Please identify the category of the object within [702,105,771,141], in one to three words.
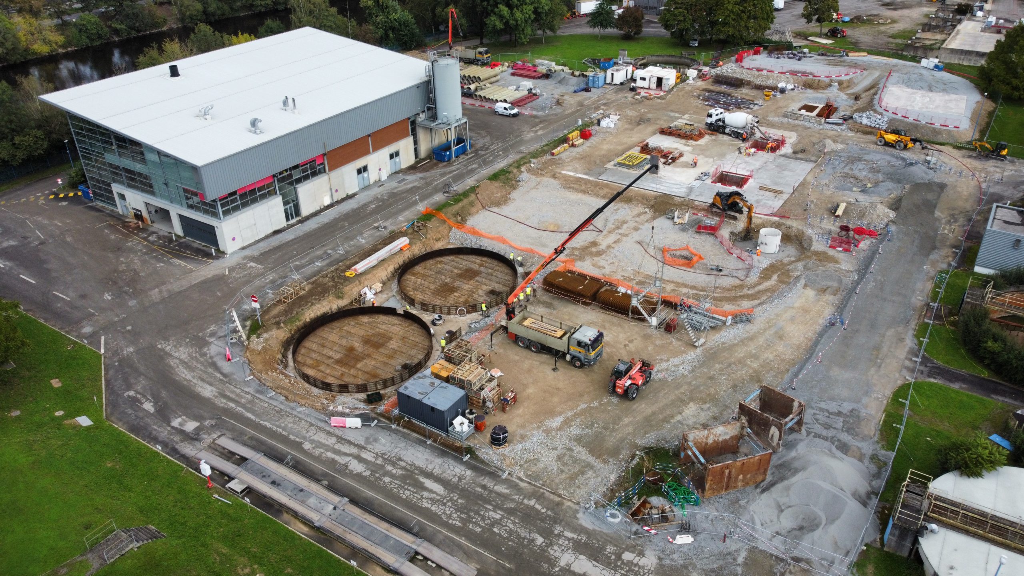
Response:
truck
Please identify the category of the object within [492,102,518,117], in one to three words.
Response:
vehicle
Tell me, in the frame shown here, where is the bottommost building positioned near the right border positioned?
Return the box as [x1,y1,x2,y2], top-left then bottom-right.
[975,202,1024,281]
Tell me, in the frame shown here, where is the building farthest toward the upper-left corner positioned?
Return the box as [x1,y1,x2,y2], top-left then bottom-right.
[44,28,435,255]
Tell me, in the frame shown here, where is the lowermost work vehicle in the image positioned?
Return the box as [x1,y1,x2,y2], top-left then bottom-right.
[603,354,655,402]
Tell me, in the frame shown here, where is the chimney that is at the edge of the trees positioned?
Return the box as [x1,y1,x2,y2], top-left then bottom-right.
[166,61,181,78]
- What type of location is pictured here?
industrial area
